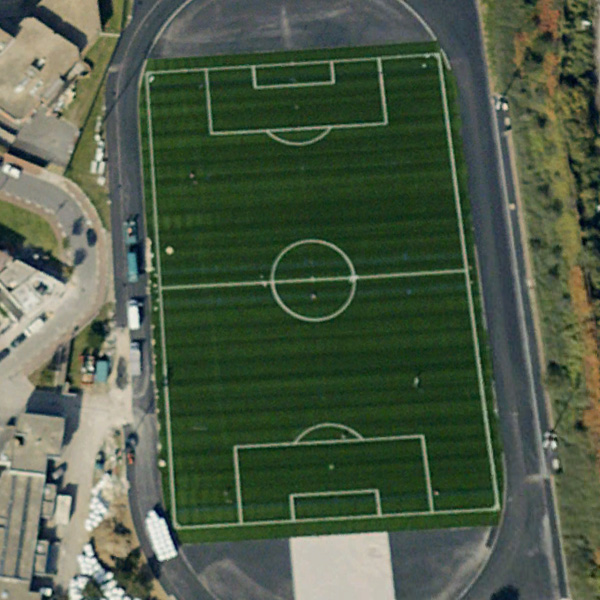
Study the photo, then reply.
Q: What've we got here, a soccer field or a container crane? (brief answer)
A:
soccer field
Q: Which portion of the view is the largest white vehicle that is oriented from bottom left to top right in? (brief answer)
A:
left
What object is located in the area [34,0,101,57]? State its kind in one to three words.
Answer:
building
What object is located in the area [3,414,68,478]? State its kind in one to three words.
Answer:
building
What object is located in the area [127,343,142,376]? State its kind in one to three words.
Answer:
vehicle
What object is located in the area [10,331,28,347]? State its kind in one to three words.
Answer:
car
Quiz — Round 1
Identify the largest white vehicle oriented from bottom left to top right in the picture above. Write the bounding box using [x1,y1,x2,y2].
[24,313,47,335]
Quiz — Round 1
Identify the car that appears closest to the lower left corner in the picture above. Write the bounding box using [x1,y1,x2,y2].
[50,464,64,479]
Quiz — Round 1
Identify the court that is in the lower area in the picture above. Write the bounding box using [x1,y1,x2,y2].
[290,532,396,600]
